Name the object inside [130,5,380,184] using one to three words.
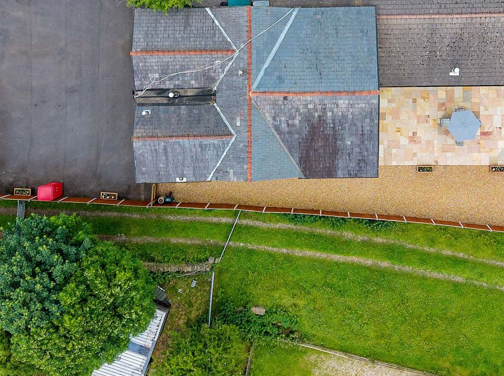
house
